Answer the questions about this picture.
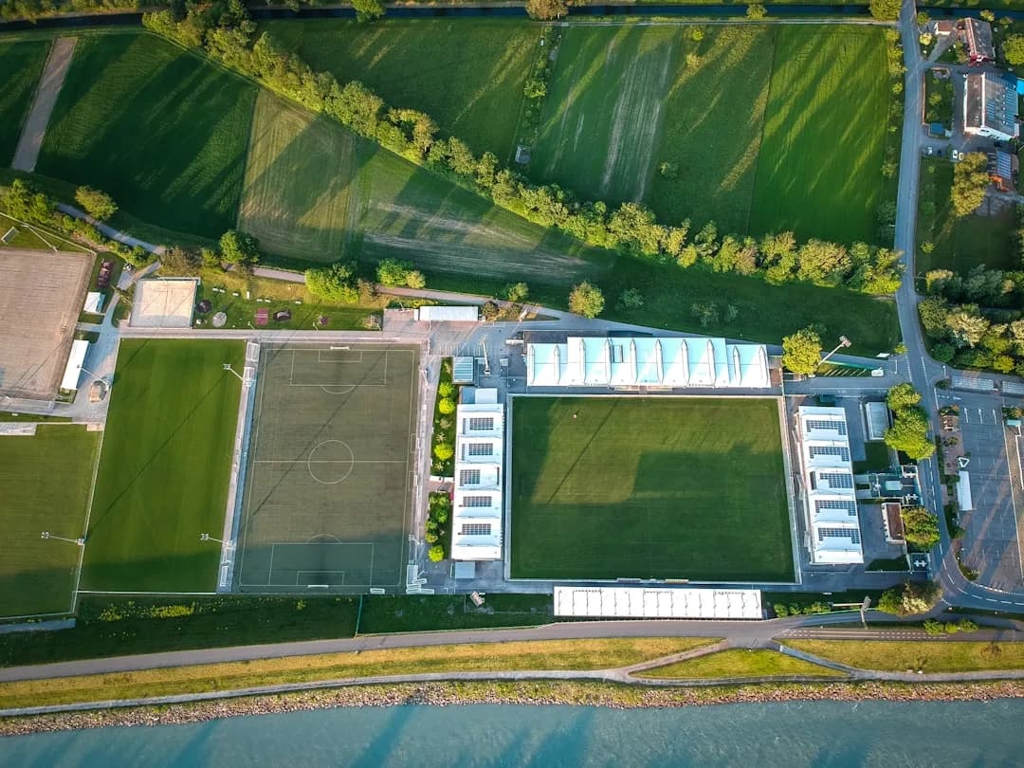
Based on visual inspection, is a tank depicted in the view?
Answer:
No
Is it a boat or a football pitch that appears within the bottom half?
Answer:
football pitch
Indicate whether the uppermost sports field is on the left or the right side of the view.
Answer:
left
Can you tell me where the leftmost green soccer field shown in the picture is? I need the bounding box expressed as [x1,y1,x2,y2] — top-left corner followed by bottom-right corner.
[0,425,99,621]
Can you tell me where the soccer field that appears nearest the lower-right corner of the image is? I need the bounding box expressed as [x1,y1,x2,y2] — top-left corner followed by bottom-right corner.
[505,392,801,583]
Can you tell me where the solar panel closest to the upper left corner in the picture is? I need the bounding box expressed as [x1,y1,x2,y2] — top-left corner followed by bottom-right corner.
[456,362,472,378]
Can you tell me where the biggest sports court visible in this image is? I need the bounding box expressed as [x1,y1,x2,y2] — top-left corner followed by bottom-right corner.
[130,278,198,328]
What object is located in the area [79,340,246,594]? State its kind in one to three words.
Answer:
soccer field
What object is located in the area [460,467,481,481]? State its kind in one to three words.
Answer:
solar panel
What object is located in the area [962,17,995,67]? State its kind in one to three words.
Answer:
house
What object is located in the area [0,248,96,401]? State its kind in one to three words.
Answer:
sports field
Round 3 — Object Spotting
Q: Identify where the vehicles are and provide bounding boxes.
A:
[871,368,885,375]
[952,148,959,158]
[993,141,1003,146]
[927,145,934,154]
[959,151,965,159]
